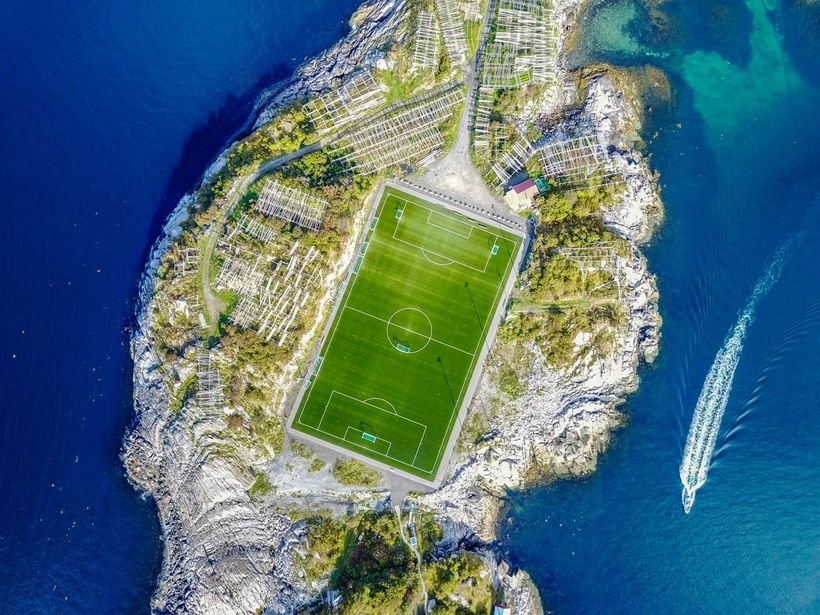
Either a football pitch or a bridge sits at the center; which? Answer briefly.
football pitch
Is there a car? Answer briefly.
No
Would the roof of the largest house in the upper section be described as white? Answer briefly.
Yes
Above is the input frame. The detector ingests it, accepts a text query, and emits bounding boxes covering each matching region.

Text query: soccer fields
[286,180,529,488]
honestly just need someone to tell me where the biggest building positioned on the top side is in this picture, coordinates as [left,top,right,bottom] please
[505,178,540,211]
